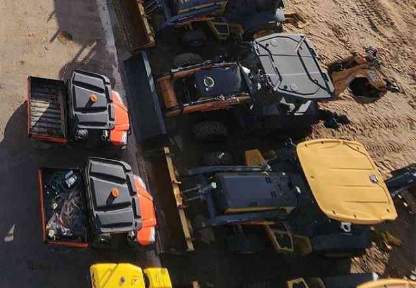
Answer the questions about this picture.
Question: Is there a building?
No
